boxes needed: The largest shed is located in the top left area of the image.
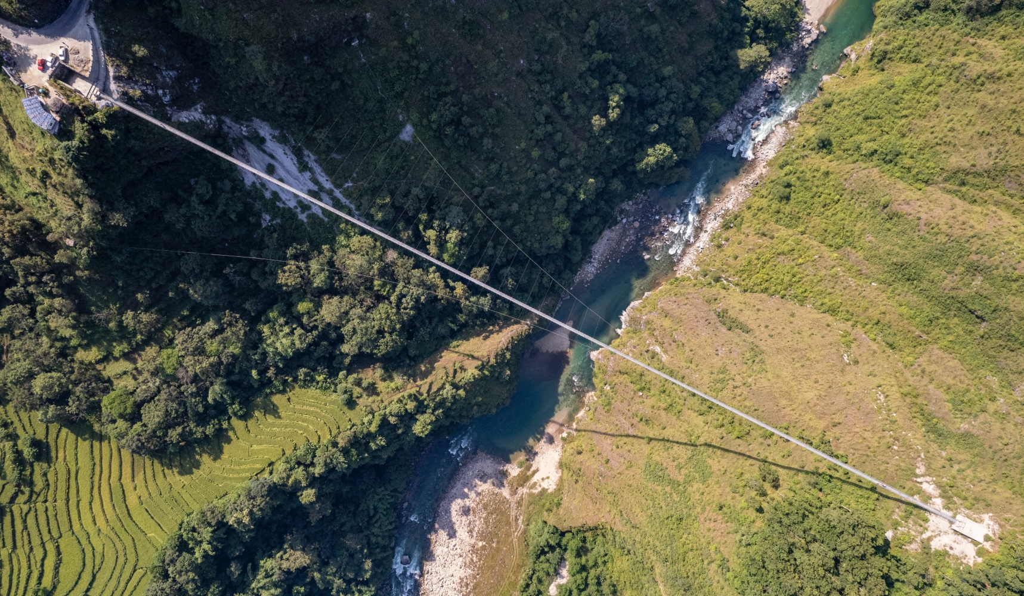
[22,96,64,130]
